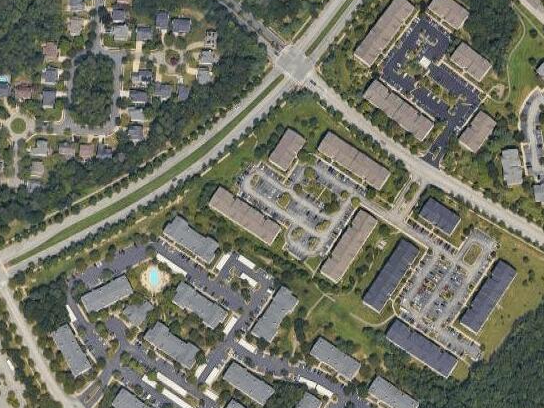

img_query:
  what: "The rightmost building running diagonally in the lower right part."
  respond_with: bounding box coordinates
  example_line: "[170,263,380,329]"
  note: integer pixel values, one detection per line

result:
[460,261,518,333]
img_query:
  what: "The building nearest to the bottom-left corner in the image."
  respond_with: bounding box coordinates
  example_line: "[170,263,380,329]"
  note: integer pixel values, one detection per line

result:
[49,324,92,377]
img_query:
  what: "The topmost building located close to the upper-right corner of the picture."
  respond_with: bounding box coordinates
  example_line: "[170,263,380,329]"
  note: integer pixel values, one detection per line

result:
[429,0,470,30]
